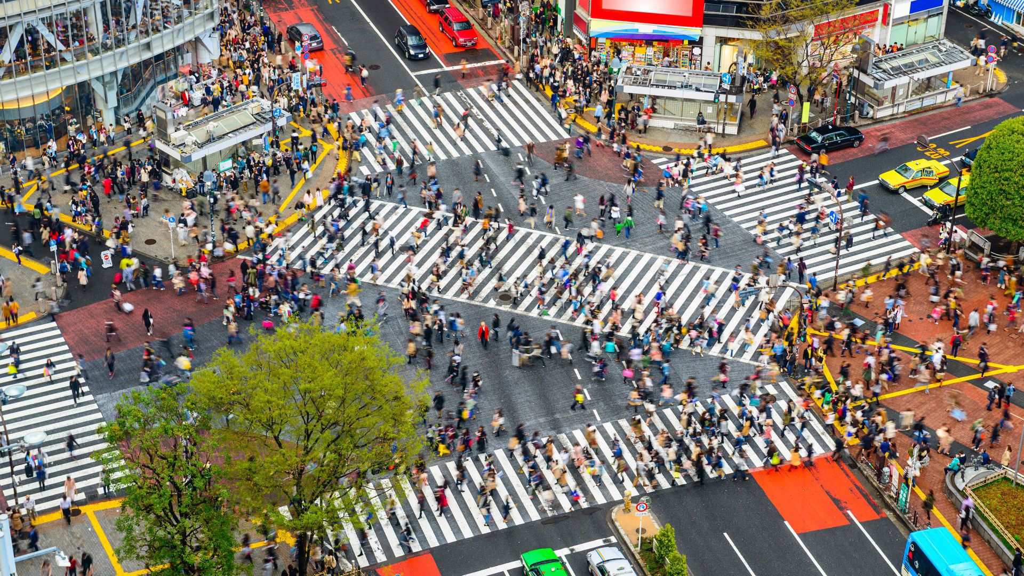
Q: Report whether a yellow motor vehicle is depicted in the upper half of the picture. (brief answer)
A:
Yes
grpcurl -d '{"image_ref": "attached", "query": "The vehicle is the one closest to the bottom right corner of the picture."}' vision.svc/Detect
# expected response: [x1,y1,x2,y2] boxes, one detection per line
[903,526,989,576]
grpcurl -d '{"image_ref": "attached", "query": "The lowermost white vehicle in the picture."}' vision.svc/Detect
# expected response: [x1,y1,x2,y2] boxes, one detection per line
[591,549,644,576]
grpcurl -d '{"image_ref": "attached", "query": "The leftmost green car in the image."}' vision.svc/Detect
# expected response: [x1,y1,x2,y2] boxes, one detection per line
[529,553,578,576]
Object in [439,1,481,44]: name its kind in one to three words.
car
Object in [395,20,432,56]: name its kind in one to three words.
car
